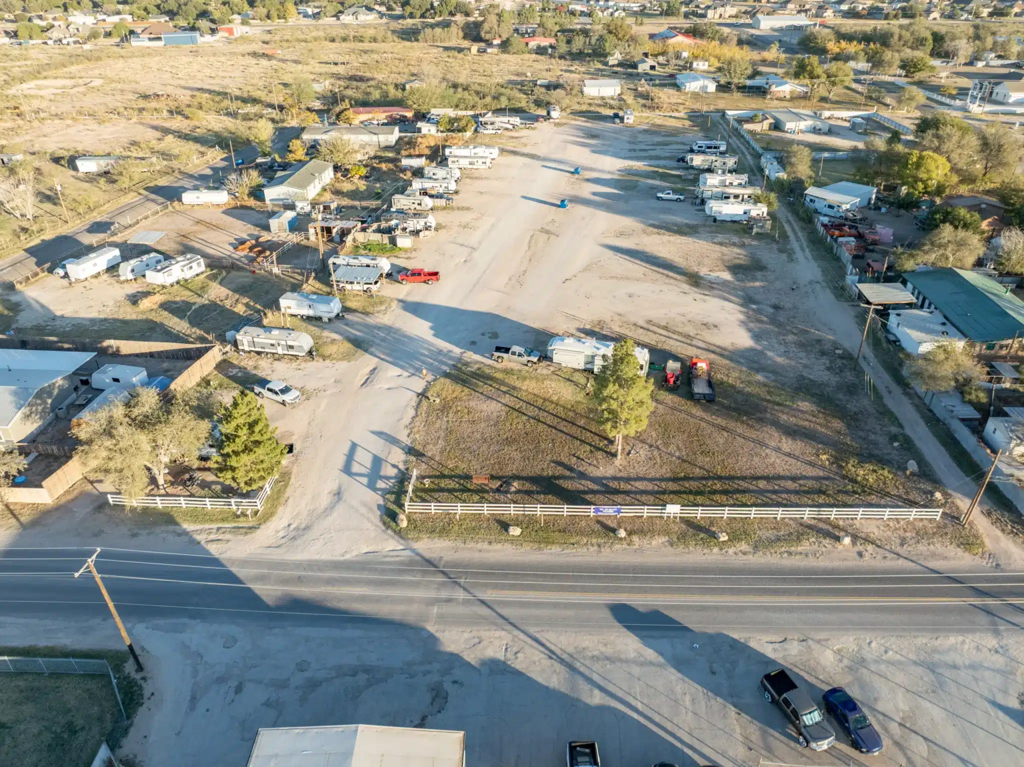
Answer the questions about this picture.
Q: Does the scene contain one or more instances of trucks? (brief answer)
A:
Yes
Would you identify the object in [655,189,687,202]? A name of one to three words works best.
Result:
vehicle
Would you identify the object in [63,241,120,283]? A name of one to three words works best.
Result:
trailer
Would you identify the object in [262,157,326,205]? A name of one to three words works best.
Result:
house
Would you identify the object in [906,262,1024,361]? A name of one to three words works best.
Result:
building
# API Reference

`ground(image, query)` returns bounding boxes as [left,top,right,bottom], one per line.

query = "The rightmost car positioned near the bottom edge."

[819,684,887,761]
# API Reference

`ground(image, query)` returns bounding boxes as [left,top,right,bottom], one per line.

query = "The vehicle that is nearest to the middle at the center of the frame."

[490,343,543,366]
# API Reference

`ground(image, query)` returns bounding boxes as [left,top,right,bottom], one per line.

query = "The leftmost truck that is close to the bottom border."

[567,742,601,767]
